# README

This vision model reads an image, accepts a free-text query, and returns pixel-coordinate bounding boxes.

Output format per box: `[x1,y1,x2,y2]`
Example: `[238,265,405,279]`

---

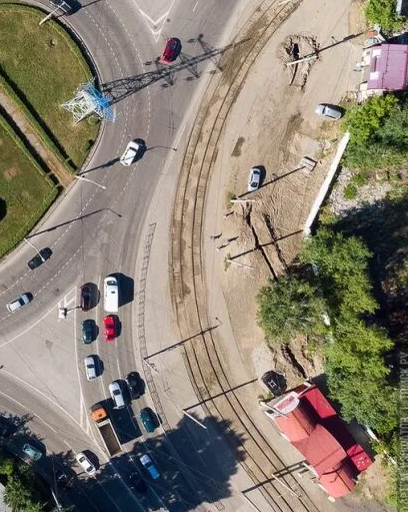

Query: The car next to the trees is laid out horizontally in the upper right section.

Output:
[314,105,342,118]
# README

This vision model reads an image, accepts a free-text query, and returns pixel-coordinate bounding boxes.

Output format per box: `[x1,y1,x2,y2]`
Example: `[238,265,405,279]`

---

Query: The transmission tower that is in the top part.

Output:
[62,82,115,127]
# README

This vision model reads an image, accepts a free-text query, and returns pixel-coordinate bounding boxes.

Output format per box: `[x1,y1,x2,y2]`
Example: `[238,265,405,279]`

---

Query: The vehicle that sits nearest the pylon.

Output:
[121,141,139,164]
